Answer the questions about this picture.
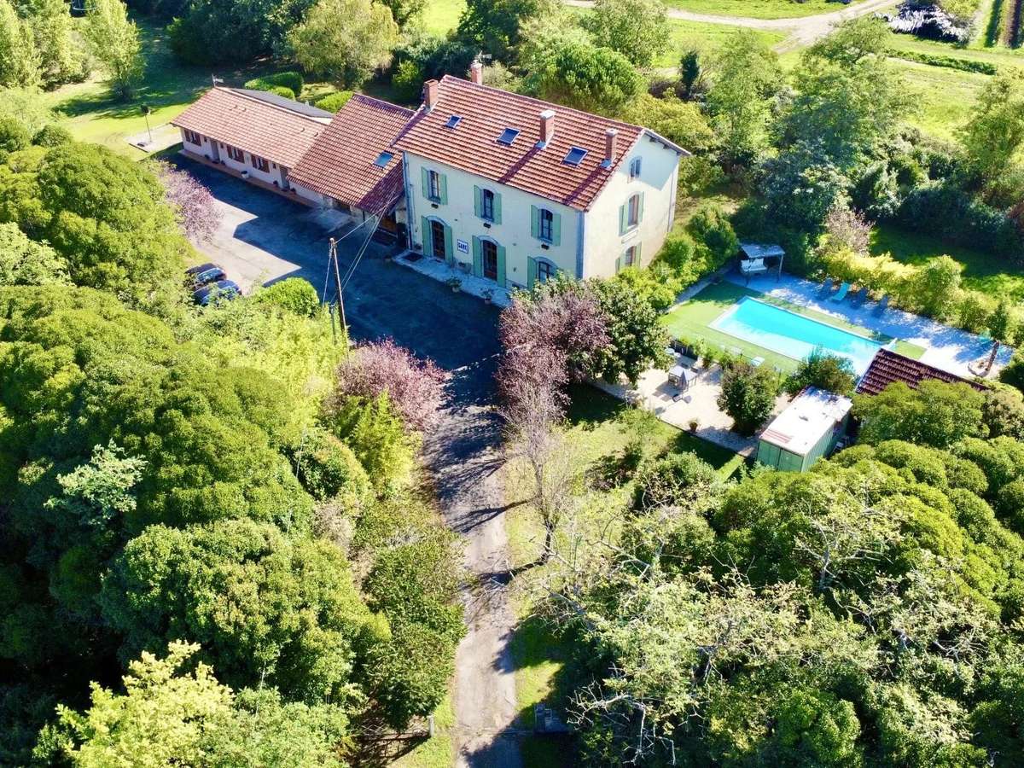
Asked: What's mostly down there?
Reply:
trees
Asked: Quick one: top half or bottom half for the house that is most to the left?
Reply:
top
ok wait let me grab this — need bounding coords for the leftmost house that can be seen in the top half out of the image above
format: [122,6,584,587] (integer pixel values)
[172,83,341,213]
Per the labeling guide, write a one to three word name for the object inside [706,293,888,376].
swimming pool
